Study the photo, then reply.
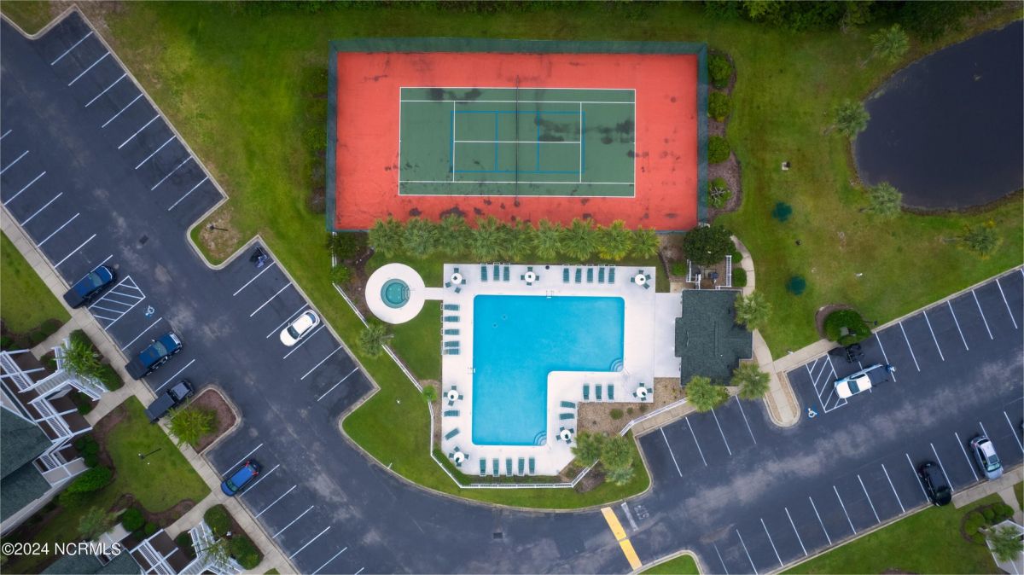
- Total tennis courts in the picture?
1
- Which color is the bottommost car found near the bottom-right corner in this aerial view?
black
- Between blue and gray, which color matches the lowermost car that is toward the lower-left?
blue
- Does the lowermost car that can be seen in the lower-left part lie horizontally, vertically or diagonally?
diagonally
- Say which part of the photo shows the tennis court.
top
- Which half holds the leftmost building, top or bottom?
bottom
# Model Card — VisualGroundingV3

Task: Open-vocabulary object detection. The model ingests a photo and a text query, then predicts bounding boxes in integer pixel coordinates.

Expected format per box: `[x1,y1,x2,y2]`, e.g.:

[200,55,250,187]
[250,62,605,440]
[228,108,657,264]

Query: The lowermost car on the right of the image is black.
[915,459,950,505]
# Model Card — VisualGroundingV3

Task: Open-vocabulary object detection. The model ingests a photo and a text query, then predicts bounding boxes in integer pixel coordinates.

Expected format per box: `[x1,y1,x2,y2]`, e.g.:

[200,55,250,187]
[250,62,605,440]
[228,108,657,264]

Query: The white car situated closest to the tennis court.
[281,307,323,346]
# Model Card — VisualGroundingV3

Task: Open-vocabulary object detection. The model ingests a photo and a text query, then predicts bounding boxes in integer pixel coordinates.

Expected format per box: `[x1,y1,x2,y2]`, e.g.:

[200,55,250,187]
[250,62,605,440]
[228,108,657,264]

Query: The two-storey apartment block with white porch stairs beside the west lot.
[0,340,109,534]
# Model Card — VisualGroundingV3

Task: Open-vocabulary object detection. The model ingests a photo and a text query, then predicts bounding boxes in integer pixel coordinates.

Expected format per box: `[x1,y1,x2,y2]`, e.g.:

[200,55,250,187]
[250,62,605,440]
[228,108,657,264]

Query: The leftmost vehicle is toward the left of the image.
[64,265,121,312]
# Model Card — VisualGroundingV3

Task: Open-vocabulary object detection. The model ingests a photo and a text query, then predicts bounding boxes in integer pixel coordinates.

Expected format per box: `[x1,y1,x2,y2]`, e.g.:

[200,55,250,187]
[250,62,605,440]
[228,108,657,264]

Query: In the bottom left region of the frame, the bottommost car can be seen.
[223,458,262,494]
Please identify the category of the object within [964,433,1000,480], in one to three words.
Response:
car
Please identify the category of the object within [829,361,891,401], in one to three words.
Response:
truck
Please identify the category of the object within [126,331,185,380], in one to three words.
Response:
truck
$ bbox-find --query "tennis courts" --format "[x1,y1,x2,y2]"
[336,51,698,234]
